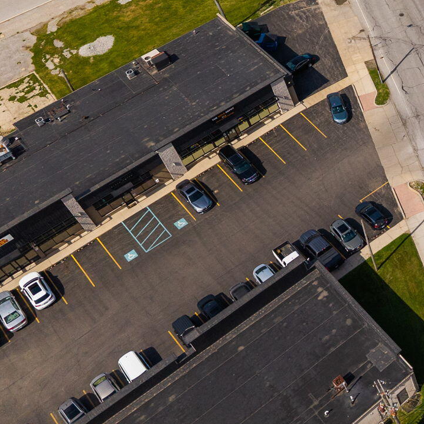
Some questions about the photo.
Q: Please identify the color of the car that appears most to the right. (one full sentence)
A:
From above, the car that appears most to the right appears black.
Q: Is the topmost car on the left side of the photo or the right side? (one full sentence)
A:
The topmost car is on the right side of the image.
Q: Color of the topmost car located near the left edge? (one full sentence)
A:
The topmost car located near the left edge is white.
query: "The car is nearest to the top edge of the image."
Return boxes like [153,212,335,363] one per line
[285,51,322,77]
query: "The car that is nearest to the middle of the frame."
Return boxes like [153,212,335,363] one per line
[172,177,216,215]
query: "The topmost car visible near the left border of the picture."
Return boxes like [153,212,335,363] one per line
[17,272,56,311]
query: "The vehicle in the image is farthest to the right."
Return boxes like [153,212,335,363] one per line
[355,200,390,235]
